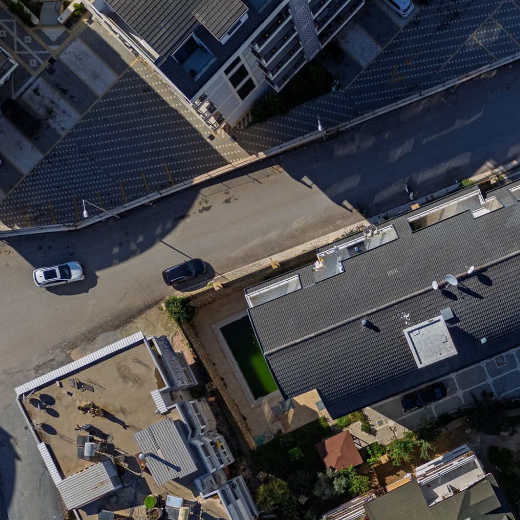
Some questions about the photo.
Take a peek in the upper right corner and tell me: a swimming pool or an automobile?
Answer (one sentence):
Looking in the upper right corner, you will find an automobile.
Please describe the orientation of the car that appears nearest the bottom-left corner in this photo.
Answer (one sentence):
In this picture, the car that appears nearest the bottom-left corner lies horizontally.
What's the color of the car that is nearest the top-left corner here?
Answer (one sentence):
The car that is nearest the top-left corner is black.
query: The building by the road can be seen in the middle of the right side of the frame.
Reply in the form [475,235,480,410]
[243,179,520,420]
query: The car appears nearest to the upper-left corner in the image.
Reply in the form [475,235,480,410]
[2,99,45,140]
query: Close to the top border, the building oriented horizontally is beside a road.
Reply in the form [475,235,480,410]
[78,0,373,142]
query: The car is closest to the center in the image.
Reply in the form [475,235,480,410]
[160,257,207,285]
